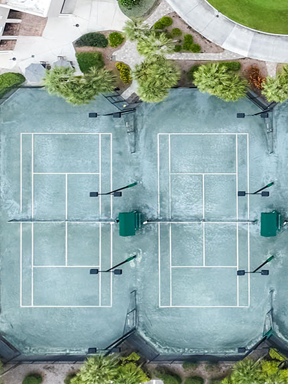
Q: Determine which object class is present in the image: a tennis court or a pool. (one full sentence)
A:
The one in the frame is a tennis court.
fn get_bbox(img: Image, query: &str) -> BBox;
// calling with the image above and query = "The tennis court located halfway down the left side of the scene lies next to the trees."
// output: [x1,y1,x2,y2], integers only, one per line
[0,88,135,356]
